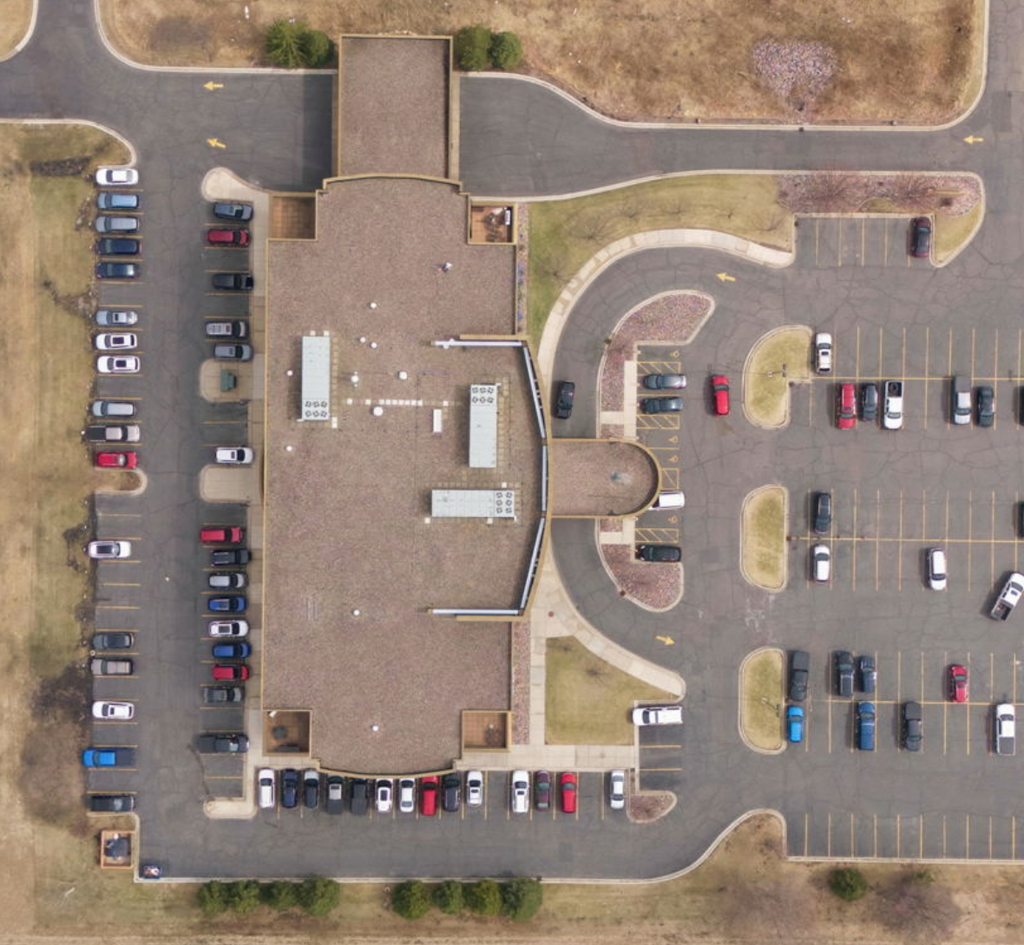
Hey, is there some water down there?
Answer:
No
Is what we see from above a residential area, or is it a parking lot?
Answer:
parking lot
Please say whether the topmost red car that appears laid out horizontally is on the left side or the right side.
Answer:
left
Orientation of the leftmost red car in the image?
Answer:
from side to side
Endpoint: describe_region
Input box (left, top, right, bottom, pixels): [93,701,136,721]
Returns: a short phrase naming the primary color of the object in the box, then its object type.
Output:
white car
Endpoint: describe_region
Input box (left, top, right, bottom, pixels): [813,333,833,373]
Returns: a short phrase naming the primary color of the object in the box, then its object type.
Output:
white car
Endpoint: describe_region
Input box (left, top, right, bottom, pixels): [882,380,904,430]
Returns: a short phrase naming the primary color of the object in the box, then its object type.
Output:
white truck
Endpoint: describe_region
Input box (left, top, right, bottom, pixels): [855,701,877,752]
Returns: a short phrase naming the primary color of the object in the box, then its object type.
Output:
blue truck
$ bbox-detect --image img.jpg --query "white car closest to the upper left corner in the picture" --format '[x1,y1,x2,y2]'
[97,166,140,186]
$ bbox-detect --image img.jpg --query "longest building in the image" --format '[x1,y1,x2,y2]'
[263,174,551,776]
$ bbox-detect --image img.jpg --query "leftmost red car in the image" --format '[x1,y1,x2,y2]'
[97,450,140,470]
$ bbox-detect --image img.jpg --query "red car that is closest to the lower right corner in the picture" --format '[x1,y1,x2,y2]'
[947,663,968,703]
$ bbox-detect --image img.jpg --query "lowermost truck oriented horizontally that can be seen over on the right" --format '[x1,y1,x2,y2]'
[632,705,684,727]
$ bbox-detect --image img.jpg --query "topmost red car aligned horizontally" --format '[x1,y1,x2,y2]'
[207,226,250,246]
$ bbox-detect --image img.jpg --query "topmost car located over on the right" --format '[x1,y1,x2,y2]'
[910,217,931,258]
